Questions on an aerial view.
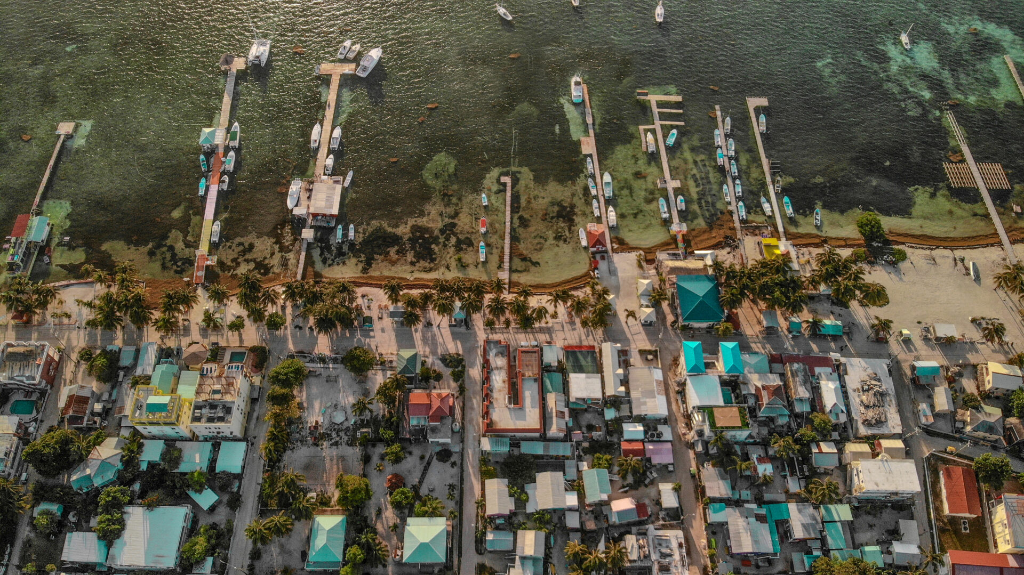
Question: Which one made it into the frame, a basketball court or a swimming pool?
swimming pool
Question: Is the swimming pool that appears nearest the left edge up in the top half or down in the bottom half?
bottom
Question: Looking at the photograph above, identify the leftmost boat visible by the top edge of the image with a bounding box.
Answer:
[246,12,272,67]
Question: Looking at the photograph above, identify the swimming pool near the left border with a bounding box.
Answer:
[4,393,40,421]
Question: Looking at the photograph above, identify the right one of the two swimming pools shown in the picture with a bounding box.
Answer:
[223,350,249,363]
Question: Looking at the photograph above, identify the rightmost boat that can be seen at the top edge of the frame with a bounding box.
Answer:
[901,20,916,51]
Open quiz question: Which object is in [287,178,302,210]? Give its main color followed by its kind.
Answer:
white boat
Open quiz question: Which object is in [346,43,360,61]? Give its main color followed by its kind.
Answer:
white boat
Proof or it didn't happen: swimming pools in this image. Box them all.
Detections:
[4,393,40,421]
[223,350,249,363]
